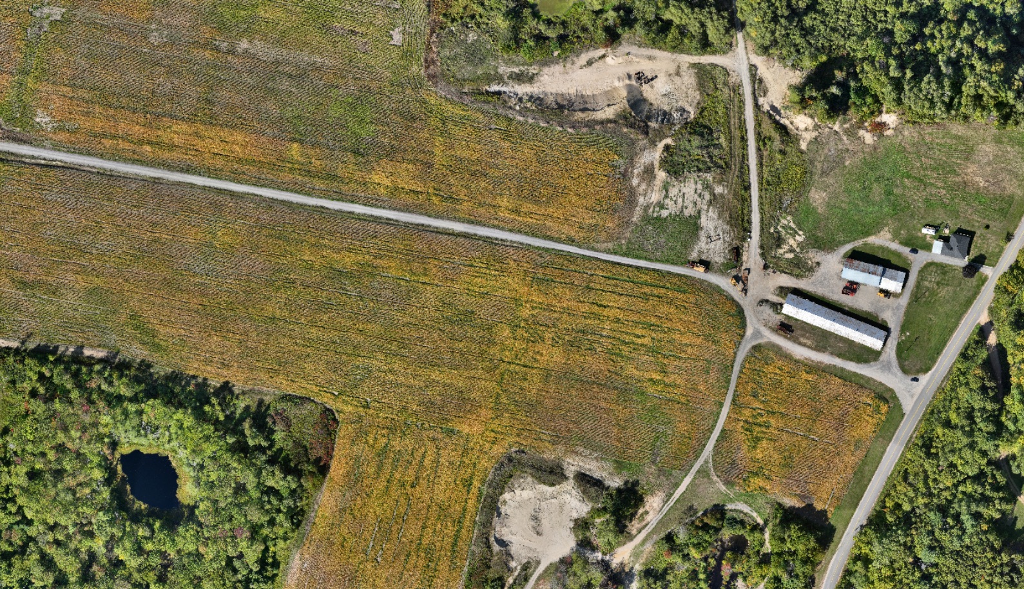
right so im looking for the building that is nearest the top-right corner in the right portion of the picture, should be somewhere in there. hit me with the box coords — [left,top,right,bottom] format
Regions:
[930,233,972,263]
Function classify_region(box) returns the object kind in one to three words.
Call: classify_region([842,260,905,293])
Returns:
shed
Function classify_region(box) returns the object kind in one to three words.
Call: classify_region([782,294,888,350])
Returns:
barn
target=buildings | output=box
[842,260,905,293]
[930,233,972,263]
[782,294,888,350]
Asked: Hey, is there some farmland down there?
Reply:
Yes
